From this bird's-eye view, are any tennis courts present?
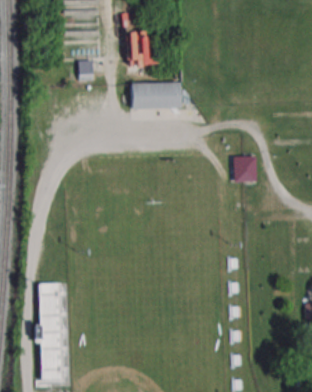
No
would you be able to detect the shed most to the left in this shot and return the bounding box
[78,60,94,82]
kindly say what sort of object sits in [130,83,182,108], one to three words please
barn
